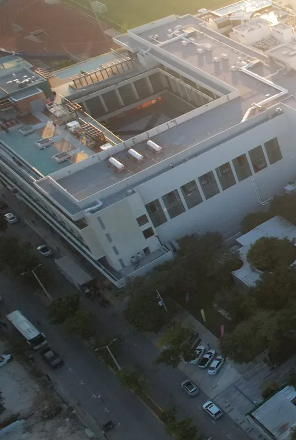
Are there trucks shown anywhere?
Yes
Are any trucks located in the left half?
Yes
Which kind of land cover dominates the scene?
buildings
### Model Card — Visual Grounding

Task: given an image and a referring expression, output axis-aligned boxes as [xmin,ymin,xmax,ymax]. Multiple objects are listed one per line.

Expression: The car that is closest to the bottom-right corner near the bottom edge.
[200,398,225,422]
